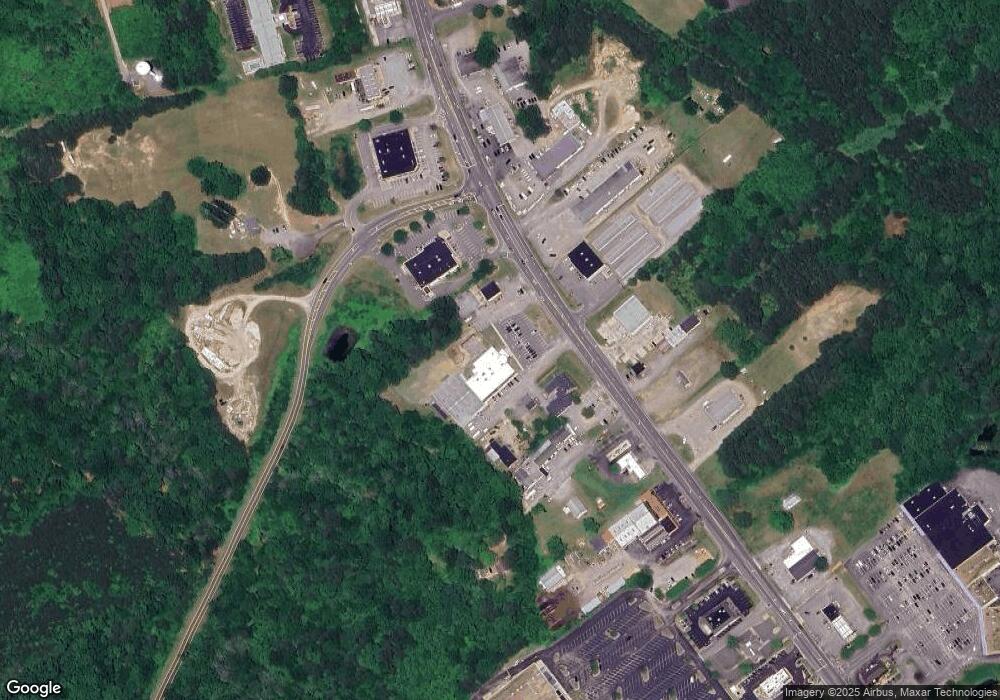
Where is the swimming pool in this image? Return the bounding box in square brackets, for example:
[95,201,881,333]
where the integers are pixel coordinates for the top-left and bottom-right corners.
[241,58,265,74]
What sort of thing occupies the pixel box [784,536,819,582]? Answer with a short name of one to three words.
building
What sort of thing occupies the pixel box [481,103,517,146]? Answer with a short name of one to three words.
building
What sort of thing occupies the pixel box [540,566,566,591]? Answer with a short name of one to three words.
barn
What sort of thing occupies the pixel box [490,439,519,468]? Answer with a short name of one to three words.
house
